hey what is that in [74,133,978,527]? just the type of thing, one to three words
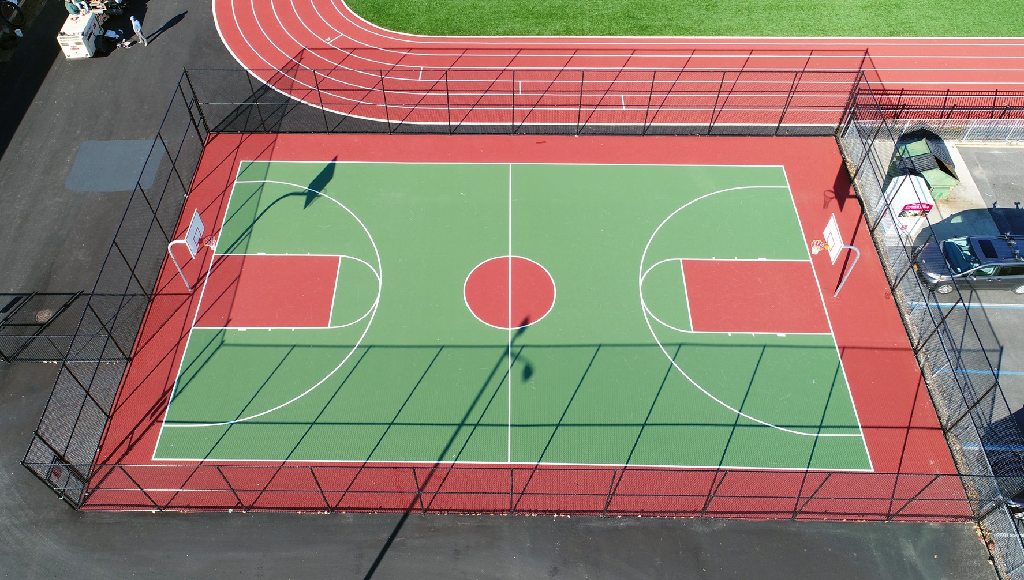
basketball court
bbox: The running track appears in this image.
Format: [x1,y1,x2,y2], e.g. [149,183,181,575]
[211,0,1024,127]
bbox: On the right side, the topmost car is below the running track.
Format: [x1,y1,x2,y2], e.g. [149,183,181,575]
[912,234,1024,295]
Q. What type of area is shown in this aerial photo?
sports ground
